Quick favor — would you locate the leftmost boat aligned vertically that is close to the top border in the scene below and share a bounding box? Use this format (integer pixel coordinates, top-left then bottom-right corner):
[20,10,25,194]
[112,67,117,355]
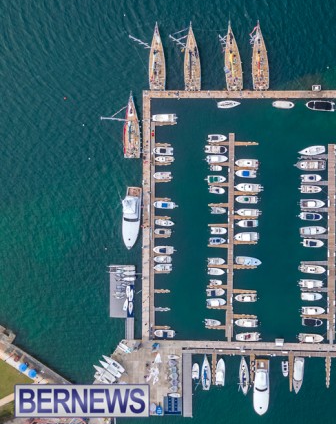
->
[132,21,166,90]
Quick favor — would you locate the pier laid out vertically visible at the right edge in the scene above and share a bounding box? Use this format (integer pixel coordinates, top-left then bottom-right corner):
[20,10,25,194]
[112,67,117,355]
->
[298,144,336,343]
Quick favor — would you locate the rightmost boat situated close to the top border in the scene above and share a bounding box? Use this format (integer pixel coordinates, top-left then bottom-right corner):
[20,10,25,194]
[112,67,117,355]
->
[251,19,271,92]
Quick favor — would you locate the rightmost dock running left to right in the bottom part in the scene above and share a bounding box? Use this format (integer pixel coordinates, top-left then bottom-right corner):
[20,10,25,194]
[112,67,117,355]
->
[183,340,336,391]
